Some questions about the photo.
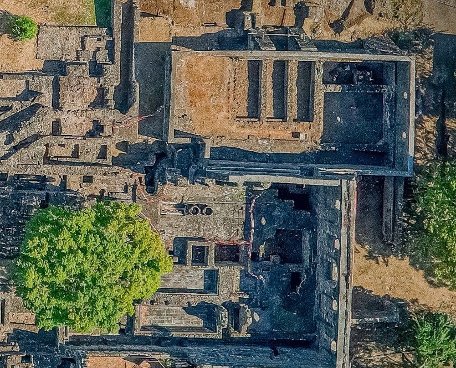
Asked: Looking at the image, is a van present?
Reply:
No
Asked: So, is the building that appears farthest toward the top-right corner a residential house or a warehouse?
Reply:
warehouse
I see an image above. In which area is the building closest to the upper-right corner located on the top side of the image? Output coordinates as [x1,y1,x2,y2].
[158,36,415,176]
